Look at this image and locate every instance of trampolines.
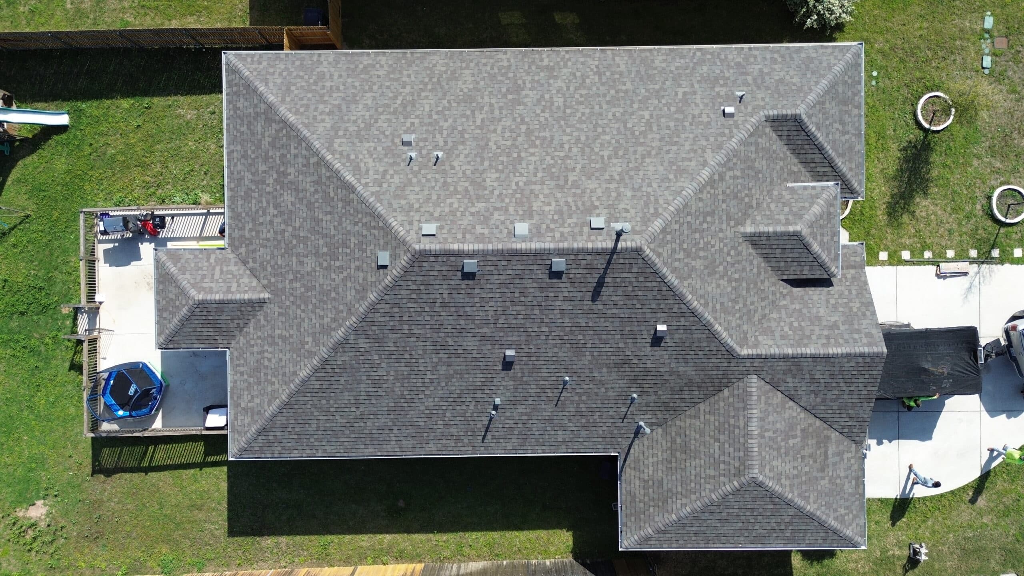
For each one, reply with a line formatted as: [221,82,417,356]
[87,362,167,422]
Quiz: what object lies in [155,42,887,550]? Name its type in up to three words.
house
